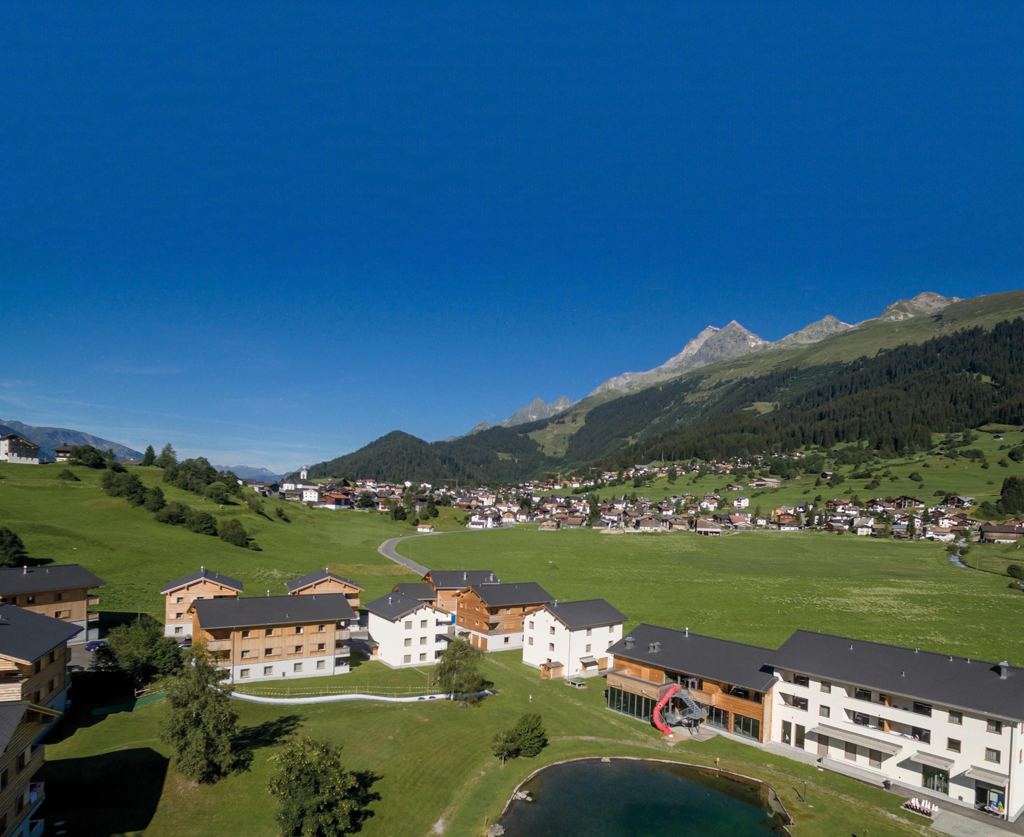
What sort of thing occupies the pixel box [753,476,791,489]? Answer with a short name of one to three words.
building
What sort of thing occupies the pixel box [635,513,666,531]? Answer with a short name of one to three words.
building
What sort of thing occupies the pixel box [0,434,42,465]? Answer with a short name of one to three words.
house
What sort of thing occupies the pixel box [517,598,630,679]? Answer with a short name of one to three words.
house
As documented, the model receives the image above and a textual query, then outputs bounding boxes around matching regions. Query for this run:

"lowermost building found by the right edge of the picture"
[761,627,1024,823]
